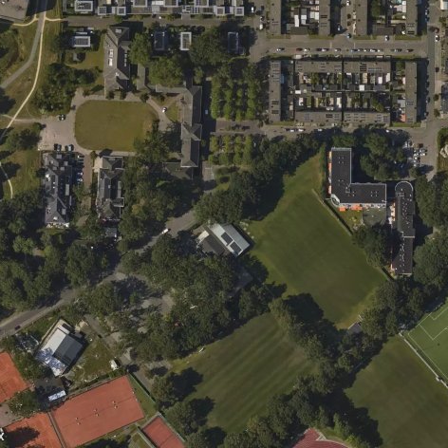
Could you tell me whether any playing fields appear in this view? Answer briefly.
Yes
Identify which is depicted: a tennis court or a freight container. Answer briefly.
tennis court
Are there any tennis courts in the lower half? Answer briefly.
Yes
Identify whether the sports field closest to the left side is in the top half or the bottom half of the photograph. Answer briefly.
bottom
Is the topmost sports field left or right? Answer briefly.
right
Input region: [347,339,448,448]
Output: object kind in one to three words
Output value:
sports field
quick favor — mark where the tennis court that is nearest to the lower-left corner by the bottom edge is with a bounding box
[5,412,60,448]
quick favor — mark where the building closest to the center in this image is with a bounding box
[192,219,249,256]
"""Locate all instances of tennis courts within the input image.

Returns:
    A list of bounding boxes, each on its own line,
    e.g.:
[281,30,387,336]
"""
[0,352,28,402]
[142,414,181,448]
[5,412,60,448]
[51,377,143,448]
